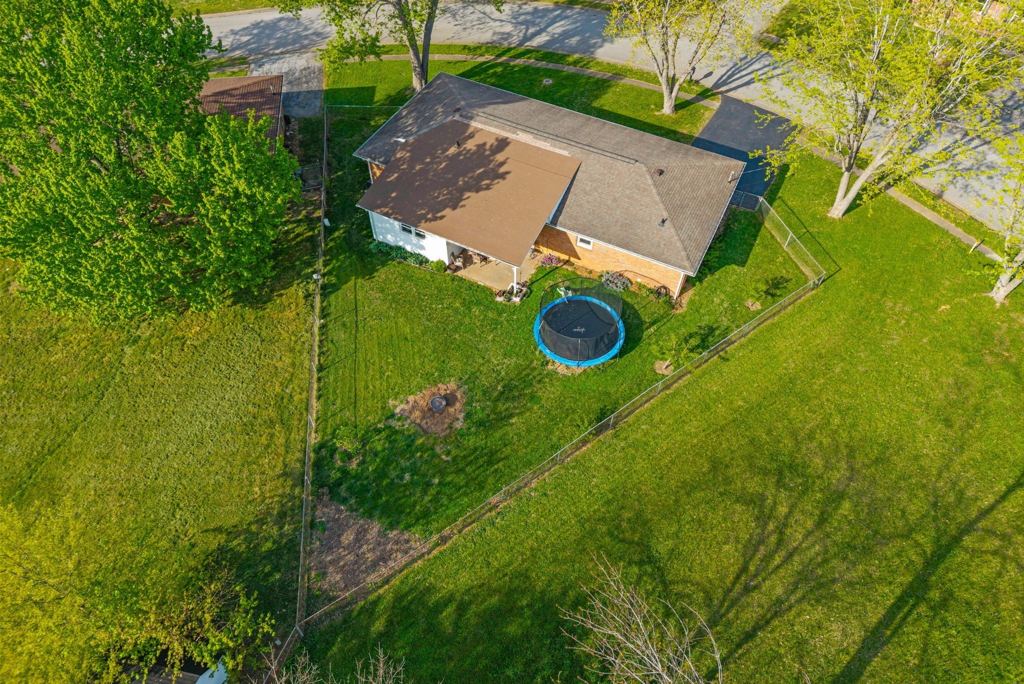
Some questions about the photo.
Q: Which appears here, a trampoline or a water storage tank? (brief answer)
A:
trampoline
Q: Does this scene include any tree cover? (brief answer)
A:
Yes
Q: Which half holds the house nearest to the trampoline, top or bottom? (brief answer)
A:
top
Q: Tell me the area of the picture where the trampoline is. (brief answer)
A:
center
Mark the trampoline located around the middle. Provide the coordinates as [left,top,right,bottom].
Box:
[533,275,624,374]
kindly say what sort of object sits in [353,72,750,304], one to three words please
house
